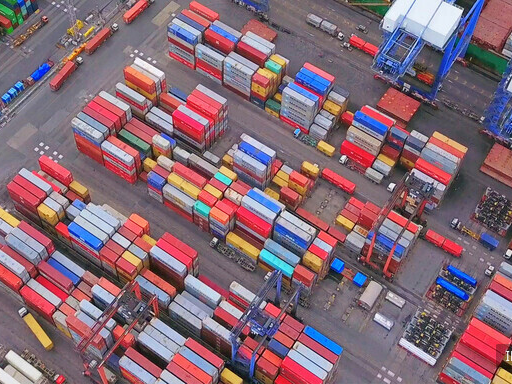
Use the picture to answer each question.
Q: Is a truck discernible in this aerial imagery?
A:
Yes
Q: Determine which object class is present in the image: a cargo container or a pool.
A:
cargo container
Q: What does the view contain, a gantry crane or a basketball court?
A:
gantry crane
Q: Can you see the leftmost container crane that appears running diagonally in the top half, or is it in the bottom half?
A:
bottom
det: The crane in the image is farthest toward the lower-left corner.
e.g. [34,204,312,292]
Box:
[73,274,163,384]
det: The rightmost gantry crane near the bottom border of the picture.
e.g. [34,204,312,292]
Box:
[227,267,305,384]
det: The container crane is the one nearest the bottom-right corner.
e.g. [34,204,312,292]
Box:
[358,169,437,277]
